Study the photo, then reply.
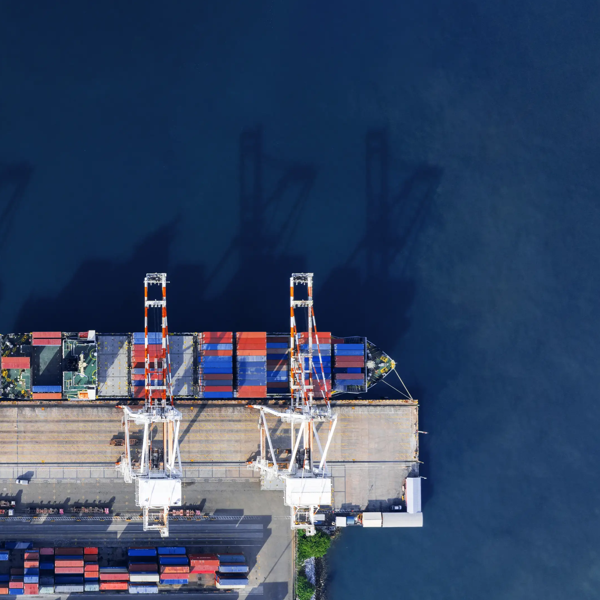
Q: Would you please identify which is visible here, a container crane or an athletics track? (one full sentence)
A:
Looking from above, you can make out a container crane.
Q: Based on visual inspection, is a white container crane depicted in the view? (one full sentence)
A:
Yes, the picture does show a white container crane.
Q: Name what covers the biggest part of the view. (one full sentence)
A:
Most of the picture is covered by water.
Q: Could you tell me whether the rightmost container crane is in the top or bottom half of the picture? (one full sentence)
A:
You can find the rightmost container crane in the bottom half.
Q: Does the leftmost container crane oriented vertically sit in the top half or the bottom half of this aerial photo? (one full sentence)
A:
The bottom half of the photo is where the leftmost container crane oriented vertically is.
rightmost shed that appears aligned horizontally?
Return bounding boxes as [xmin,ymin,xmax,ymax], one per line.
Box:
[378,512,423,527]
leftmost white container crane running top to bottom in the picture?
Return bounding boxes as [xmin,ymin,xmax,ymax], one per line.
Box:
[112,273,190,538]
